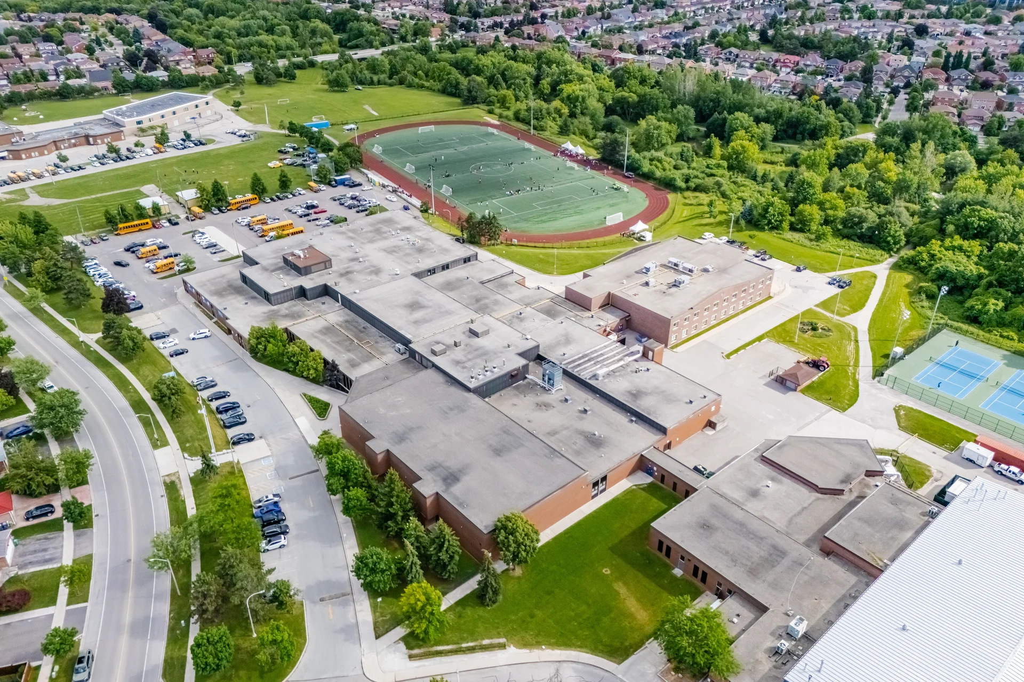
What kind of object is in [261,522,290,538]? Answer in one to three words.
car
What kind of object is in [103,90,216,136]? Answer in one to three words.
building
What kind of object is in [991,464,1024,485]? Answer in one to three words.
truck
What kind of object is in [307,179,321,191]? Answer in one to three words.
vehicle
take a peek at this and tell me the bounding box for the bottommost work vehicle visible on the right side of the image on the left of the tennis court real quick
[793,358,826,373]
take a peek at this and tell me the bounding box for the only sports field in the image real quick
[364,124,647,234]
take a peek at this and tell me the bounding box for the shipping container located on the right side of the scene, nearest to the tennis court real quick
[976,432,1024,469]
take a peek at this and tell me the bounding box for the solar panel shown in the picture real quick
[110,91,207,115]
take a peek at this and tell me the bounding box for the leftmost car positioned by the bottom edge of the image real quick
[71,649,94,680]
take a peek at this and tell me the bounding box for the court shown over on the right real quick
[882,334,1024,438]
